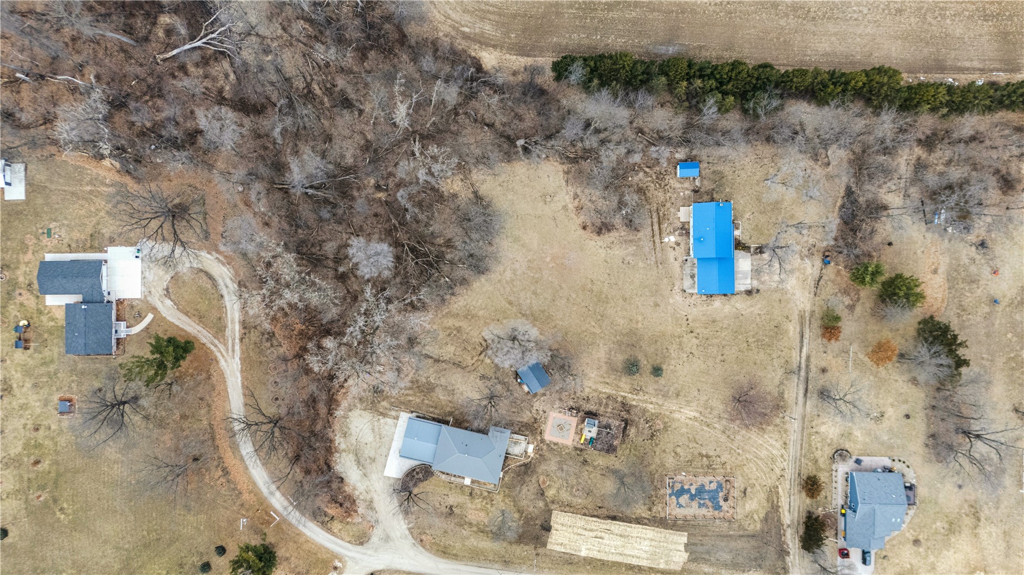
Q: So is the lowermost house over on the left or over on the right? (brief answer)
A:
right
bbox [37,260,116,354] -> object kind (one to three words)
house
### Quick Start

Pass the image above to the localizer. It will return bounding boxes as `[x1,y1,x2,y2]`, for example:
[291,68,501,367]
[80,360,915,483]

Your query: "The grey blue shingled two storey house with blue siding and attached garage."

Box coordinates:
[842,471,908,550]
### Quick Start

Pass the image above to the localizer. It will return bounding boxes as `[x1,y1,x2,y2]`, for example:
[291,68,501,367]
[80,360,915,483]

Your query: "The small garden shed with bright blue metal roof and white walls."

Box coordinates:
[677,161,699,178]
